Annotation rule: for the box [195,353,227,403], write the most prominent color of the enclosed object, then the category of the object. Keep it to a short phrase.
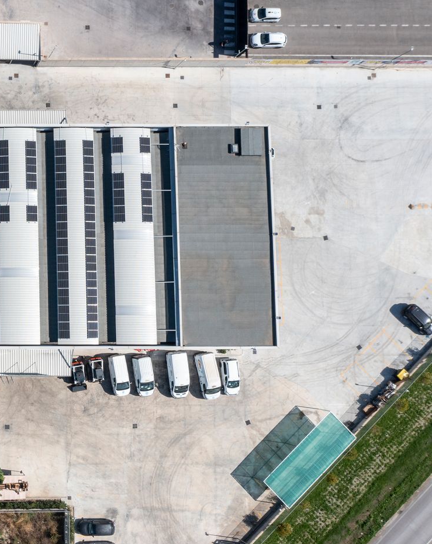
white van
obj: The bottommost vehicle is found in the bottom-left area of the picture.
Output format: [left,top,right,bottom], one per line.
[77,521,116,541]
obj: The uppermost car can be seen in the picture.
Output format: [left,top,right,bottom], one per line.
[251,3,287,22]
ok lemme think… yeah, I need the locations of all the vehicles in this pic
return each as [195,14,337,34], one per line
[107,354,135,398]
[71,361,91,389]
[133,355,159,397]
[195,353,227,403]
[77,521,116,541]
[405,306,432,341]
[168,353,195,400]
[251,3,287,22]
[252,29,289,47]
[87,358,107,382]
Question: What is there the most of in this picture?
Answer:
paved ground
